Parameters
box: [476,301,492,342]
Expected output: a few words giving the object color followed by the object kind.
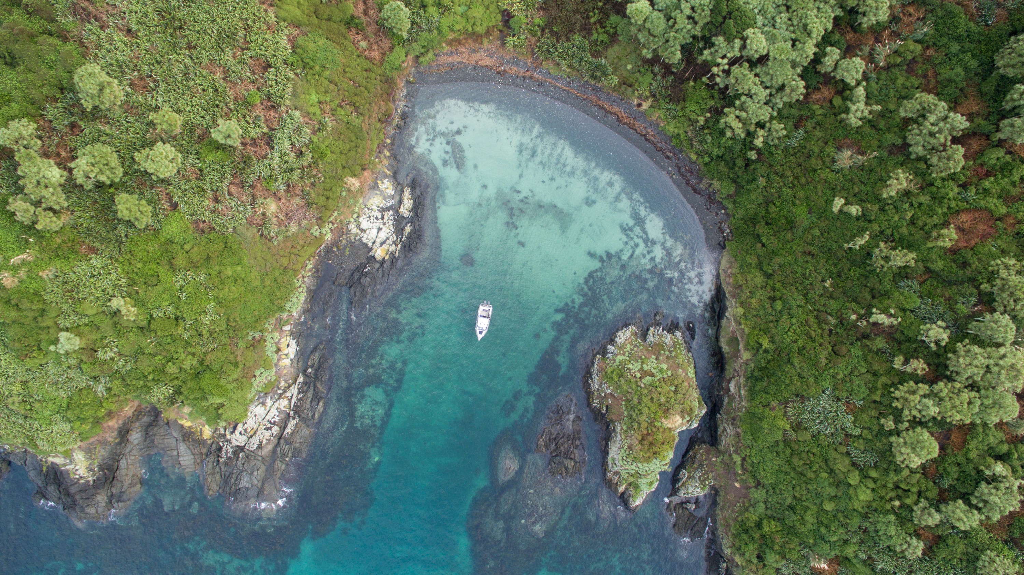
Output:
white boat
